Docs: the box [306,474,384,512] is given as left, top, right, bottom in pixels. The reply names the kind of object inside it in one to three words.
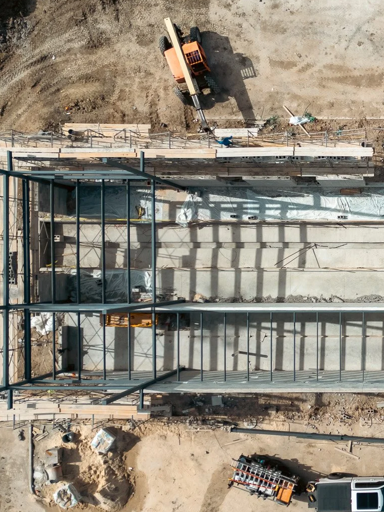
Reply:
truck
